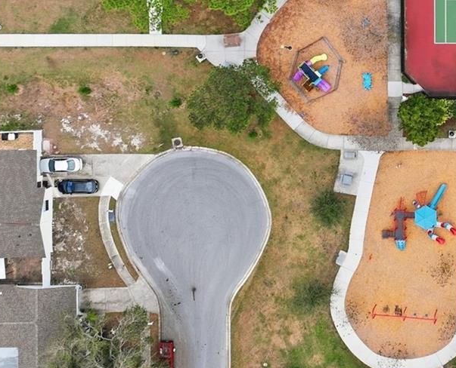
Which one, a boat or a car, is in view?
car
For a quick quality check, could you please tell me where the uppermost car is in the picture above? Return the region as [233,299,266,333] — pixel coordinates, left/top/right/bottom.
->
[41,157,85,175]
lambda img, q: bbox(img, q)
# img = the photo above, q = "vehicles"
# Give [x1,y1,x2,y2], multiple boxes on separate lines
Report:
[41,157,85,175]
[156,339,177,368]
[58,178,102,196]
